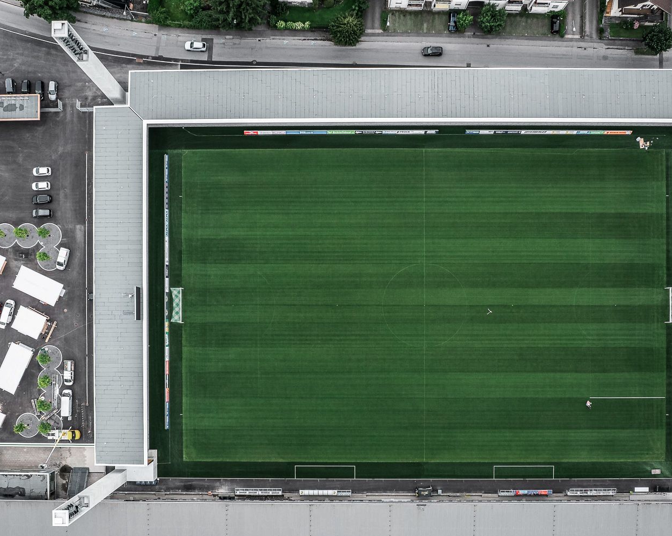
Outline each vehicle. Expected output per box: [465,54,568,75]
[33,79,44,102]
[46,80,58,102]
[421,45,443,57]
[31,180,51,191]
[550,15,562,37]
[56,249,70,269]
[32,166,52,176]
[31,195,53,204]
[32,207,54,218]
[59,391,72,421]
[4,76,15,95]
[18,78,30,94]
[0,298,16,329]
[63,360,75,386]
[185,41,206,52]
[39,425,80,469]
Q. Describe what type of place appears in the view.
sports ground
